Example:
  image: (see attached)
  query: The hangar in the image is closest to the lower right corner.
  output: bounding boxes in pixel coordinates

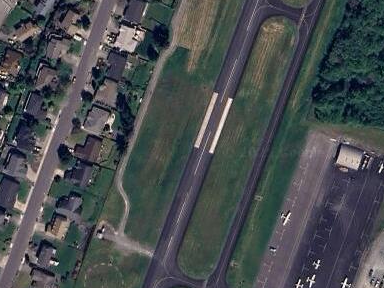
[336,144,364,171]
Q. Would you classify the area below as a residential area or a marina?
residential area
